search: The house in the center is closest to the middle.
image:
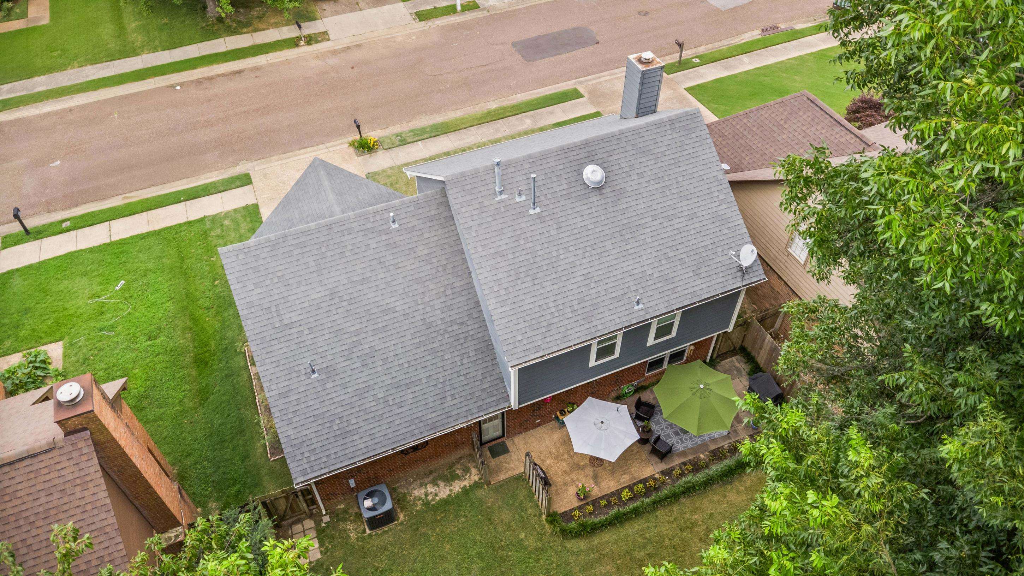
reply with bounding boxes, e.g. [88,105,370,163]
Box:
[219,50,766,511]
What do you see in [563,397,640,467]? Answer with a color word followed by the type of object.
white umbrella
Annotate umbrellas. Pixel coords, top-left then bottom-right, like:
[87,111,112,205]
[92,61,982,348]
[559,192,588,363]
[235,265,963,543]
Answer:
[563,397,640,467]
[652,362,744,441]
